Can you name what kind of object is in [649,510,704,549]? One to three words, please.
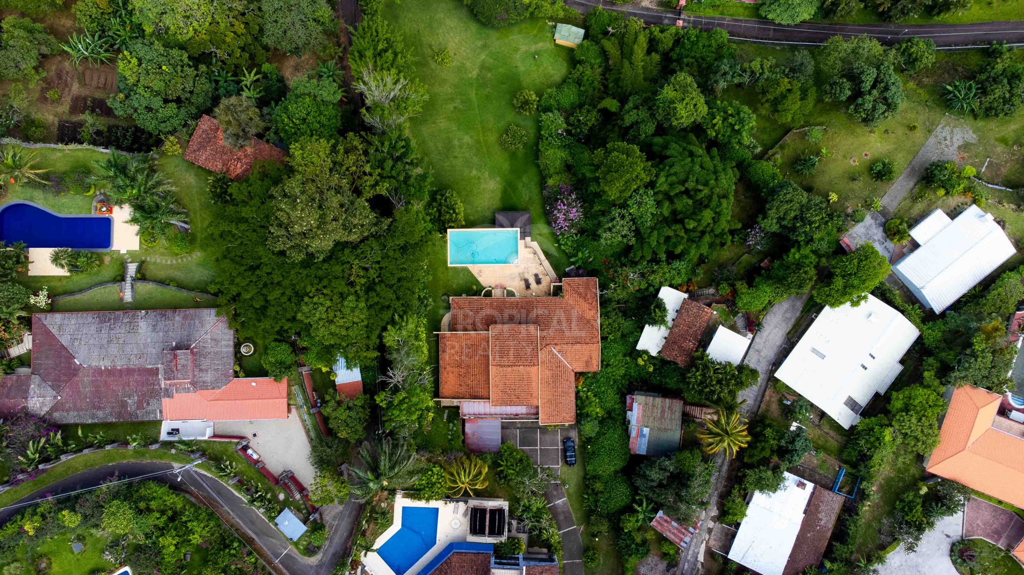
shed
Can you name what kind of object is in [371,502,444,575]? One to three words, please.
swimming pool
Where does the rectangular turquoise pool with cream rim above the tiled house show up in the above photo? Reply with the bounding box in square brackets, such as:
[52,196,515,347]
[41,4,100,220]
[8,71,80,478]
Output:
[447,228,520,267]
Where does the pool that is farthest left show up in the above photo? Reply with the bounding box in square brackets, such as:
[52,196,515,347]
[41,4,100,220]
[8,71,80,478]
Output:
[0,199,113,252]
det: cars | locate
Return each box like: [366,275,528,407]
[563,439,578,469]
